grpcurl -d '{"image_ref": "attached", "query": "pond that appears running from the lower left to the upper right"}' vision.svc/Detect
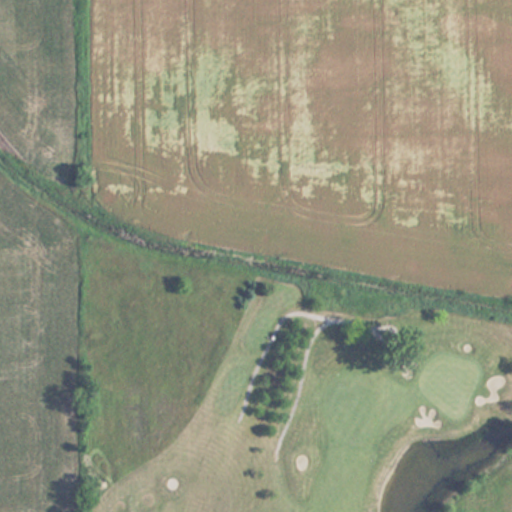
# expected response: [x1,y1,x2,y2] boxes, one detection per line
[380,418,512,512]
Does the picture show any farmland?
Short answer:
Yes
